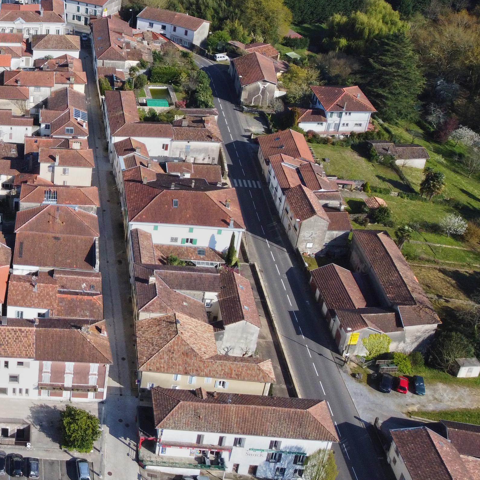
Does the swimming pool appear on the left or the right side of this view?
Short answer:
left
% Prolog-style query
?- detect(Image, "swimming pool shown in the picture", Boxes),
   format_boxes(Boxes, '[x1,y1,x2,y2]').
[143,85,177,108]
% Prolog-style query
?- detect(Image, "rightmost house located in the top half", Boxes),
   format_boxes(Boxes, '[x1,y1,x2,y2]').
[393,142,433,172]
